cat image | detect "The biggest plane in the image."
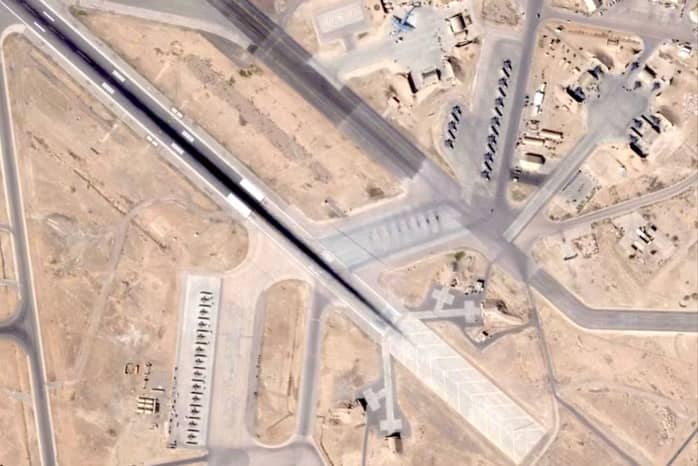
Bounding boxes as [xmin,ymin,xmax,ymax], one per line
[394,11,414,31]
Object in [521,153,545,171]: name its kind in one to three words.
hangar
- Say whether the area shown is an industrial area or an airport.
airport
